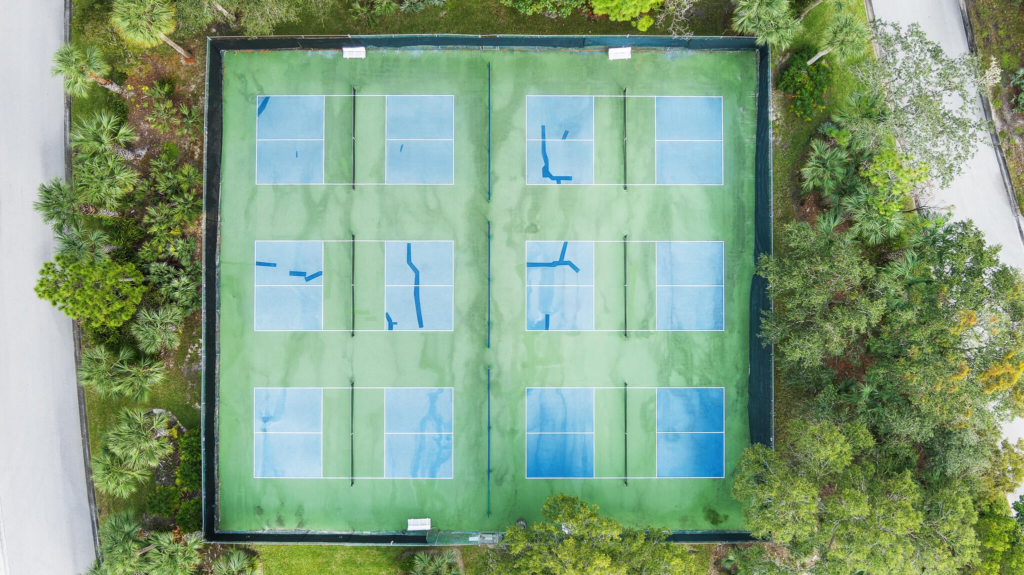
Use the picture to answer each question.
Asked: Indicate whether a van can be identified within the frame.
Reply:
No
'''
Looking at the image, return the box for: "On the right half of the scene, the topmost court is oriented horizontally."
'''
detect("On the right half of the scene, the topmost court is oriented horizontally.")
[526,95,723,185]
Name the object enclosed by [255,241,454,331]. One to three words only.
sports court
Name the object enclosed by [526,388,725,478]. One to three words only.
sports court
